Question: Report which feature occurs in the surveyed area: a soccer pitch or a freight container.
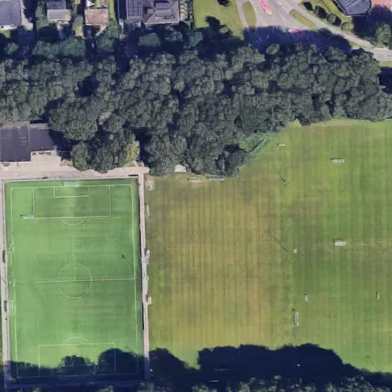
soccer pitch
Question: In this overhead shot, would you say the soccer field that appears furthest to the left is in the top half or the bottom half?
bottom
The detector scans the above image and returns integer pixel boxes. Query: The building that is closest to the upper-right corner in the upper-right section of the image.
[333,0,372,18]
